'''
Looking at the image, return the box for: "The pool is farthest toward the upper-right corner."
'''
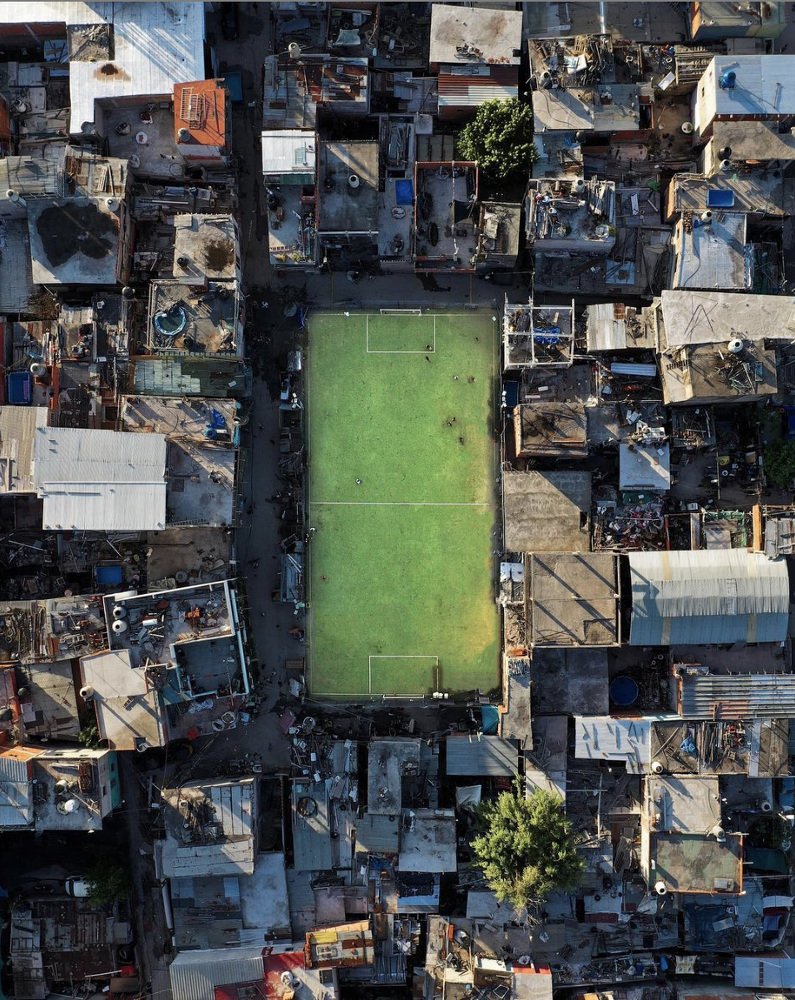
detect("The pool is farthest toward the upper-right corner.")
[706,190,733,208]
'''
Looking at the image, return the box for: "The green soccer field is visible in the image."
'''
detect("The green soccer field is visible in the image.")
[306,309,502,699]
